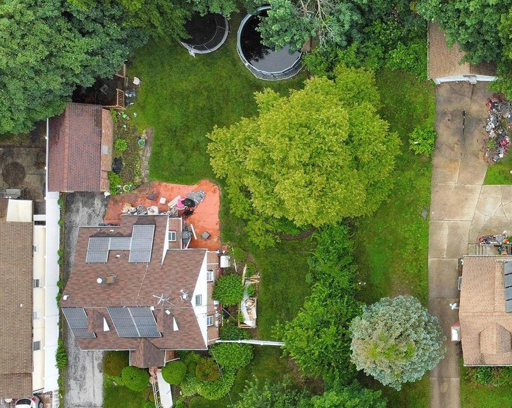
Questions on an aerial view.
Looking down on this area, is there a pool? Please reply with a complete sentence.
Yes, there's a pool here.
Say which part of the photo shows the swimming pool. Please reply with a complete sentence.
The swimming pool sits in the top section of the image.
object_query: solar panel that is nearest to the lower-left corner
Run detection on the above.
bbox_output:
[61,309,94,338]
